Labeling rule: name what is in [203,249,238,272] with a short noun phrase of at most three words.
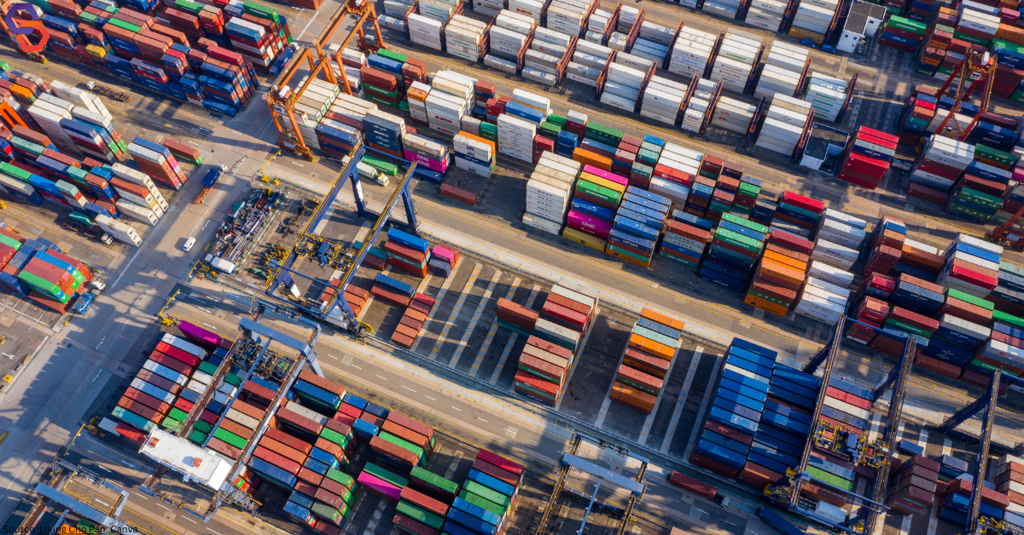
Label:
truck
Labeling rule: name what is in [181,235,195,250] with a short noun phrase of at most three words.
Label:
vehicle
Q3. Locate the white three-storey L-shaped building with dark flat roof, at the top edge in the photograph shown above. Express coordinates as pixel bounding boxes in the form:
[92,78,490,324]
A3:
[836,0,887,53]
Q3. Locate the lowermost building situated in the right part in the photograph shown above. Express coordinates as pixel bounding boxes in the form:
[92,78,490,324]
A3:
[800,121,850,175]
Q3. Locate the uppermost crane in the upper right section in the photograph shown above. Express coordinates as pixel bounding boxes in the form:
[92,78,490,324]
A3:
[918,43,1003,149]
